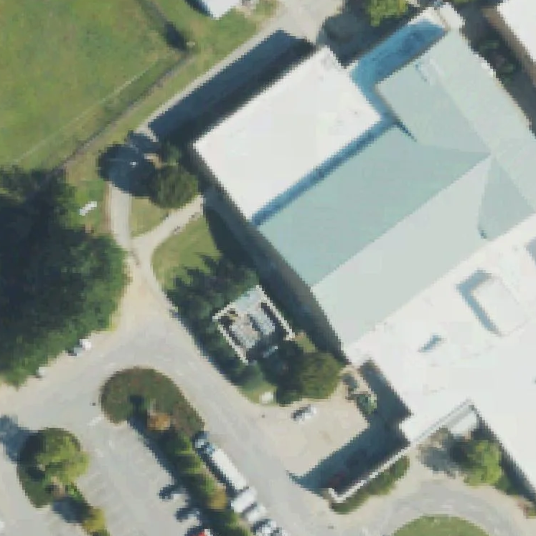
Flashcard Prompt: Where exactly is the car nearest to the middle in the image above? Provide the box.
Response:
[290,404,315,423]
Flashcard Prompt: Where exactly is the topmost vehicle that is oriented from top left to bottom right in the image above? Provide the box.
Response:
[190,427,211,451]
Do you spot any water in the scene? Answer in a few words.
No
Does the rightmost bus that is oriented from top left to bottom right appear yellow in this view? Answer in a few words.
No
